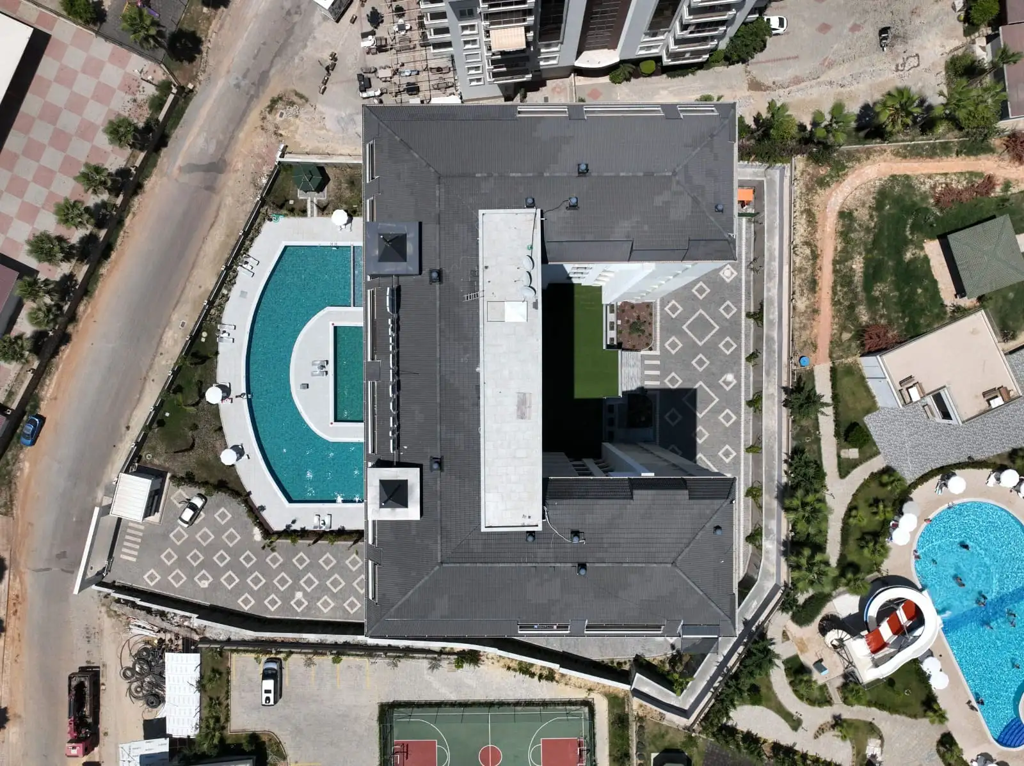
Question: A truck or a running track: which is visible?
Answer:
truck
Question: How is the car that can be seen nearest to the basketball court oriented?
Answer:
vertically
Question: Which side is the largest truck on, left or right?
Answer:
left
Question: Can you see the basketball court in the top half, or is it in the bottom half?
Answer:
bottom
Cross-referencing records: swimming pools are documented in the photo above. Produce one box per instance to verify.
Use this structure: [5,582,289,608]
[243,240,364,507]
[912,497,1024,752]
[331,322,364,426]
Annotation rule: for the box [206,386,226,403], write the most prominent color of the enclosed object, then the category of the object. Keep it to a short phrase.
white umbrella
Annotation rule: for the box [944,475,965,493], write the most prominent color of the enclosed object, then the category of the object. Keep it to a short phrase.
white umbrella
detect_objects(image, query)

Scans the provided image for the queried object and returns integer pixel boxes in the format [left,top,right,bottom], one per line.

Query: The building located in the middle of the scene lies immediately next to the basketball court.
[362,102,738,639]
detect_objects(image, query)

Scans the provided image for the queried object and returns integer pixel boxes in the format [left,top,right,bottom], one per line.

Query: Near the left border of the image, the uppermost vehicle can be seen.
[17,411,44,448]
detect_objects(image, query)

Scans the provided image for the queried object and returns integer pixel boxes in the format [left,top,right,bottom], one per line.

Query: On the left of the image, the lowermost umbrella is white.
[219,447,239,465]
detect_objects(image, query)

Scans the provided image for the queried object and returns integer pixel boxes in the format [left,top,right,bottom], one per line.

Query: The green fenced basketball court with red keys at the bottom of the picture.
[384,706,591,766]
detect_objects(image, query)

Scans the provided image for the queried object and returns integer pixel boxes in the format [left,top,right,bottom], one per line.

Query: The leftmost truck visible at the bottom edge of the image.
[63,663,101,756]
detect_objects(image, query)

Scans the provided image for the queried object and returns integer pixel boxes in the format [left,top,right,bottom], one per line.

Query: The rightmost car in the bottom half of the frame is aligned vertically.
[259,659,281,708]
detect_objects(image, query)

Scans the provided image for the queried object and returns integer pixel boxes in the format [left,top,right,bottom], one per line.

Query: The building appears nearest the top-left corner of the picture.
[0,10,49,127]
